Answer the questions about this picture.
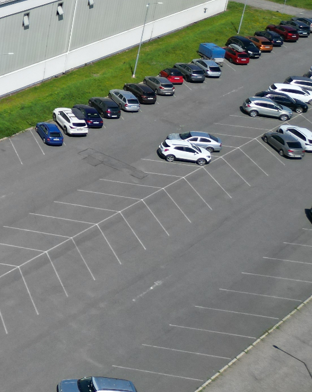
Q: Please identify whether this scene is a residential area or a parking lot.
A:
parking lot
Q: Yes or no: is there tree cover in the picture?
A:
No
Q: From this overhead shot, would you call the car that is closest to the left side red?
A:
No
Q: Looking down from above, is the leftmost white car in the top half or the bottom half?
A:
top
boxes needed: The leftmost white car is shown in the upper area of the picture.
[56,105,87,133]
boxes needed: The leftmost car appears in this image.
[31,117,60,142]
